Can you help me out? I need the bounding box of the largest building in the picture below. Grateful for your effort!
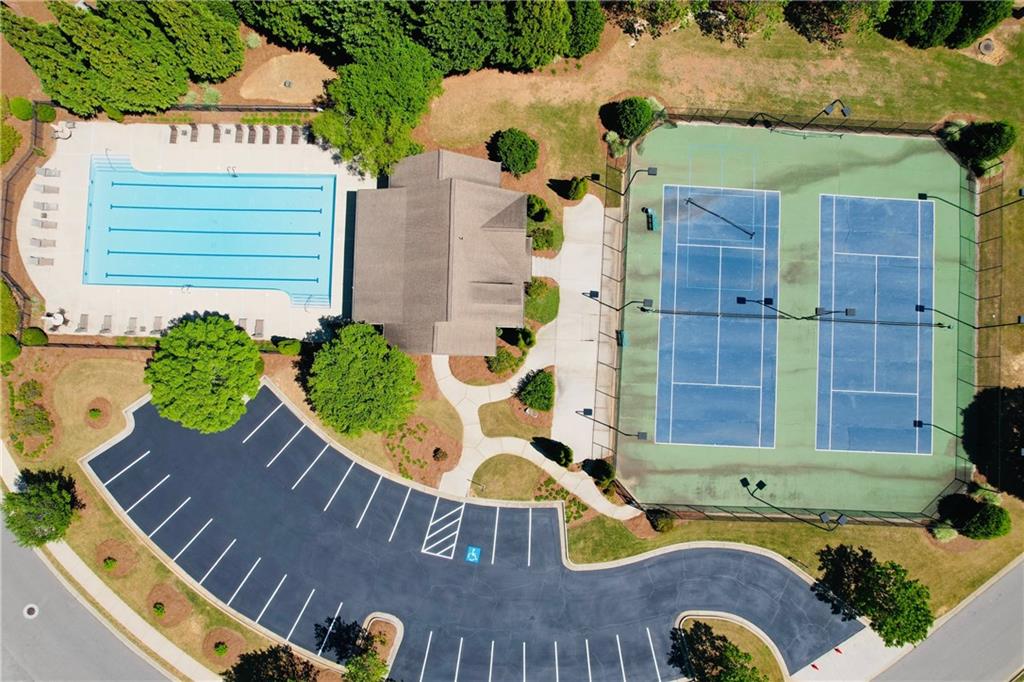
[350,151,533,357]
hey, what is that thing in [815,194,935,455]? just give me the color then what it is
blue tennis court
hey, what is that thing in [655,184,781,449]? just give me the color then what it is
blue tennis court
